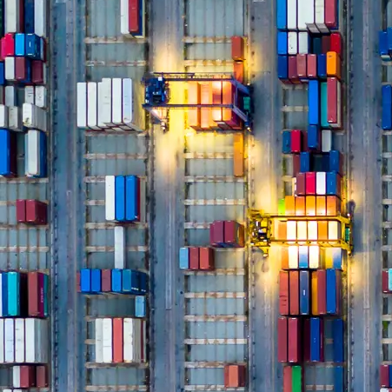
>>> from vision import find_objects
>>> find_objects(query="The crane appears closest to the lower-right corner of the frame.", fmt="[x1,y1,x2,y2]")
[242,209,358,266]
